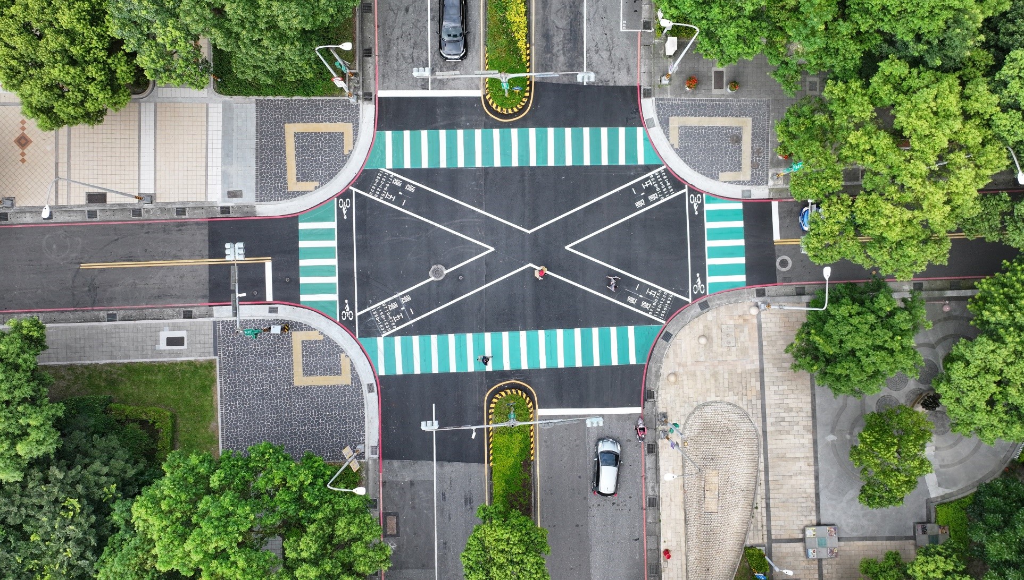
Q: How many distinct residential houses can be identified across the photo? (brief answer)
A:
0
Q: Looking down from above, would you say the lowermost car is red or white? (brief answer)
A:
white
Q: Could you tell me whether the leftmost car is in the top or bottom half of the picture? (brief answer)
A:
top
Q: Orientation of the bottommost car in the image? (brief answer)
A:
vertically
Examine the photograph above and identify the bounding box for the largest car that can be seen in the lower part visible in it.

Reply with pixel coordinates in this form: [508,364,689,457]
[591,435,623,498]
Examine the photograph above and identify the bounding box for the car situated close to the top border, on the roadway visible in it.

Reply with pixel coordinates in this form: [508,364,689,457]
[437,0,470,59]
